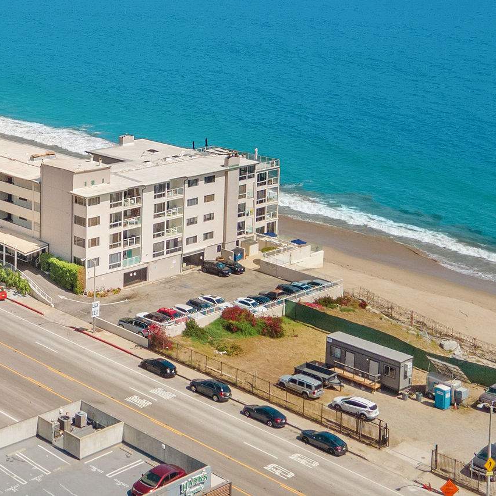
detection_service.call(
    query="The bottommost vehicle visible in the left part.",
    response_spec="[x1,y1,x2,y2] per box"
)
[128,462,189,496]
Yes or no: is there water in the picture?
Yes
